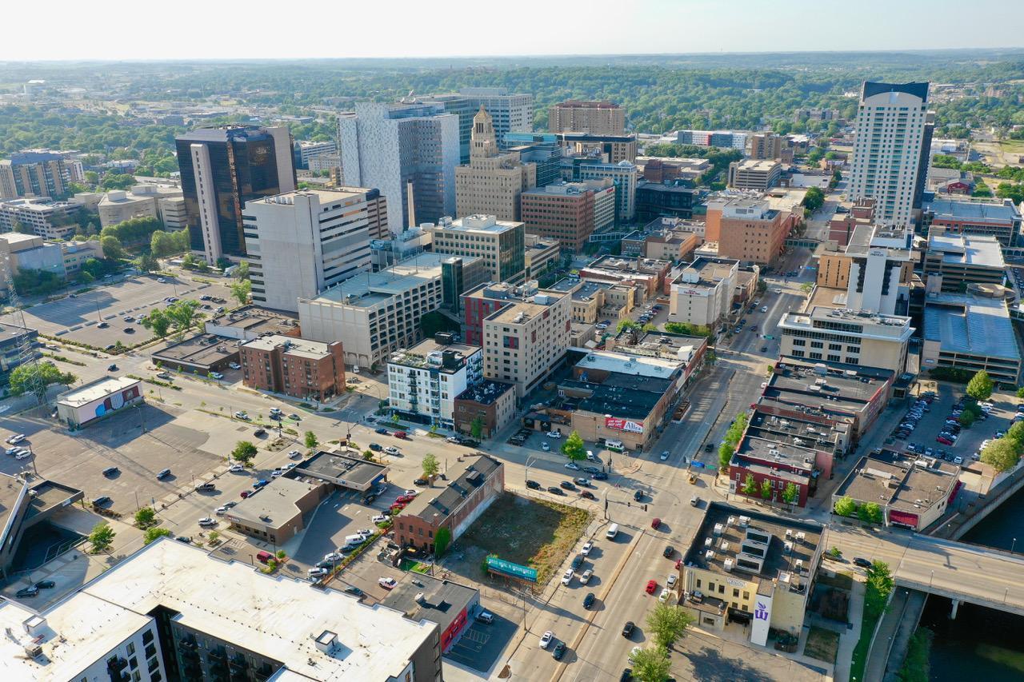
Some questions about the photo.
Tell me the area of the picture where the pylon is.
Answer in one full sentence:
You can find the pylon in the left area of the picture.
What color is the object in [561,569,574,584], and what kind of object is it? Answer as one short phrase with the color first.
white vehicle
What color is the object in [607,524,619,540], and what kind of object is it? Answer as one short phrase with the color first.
white vehicle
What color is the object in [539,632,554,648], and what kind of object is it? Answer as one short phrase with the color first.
white car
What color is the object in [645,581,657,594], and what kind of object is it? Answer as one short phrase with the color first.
red vehicle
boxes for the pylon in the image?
[0,249,52,405]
